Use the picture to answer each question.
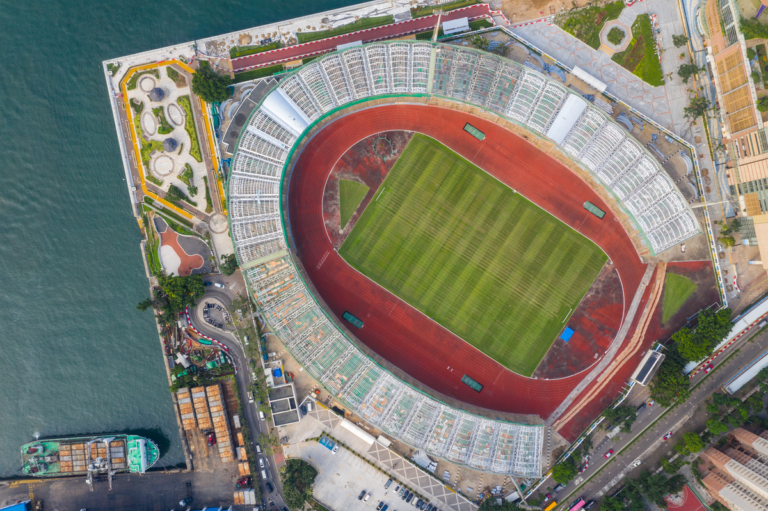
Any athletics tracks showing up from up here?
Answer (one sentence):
Yes, an athletics track can be made out from above.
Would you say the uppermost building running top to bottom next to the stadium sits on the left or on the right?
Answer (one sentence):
You can find the uppermost building running top to bottom next to the stadium on the right side of the picture.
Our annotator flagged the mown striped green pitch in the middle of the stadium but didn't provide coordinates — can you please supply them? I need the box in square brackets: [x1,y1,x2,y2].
[339,135,610,375]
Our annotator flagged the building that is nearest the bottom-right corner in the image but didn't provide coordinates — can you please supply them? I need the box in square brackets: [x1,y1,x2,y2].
[701,410,768,511]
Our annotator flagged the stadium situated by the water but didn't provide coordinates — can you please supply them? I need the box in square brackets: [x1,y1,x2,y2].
[226,40,703,479]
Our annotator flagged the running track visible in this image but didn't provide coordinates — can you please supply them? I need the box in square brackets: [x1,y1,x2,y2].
[287,104,724,443]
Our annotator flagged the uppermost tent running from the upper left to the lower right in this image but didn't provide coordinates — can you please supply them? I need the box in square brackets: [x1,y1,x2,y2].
[569,65,607,95]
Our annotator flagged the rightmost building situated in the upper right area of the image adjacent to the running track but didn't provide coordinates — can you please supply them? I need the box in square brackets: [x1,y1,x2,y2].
[698,0,768,277]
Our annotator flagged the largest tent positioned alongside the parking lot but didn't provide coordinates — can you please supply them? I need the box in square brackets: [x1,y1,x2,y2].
[340,416,375,444]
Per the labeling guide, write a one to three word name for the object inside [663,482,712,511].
basketball court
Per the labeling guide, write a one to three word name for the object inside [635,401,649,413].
vehicle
